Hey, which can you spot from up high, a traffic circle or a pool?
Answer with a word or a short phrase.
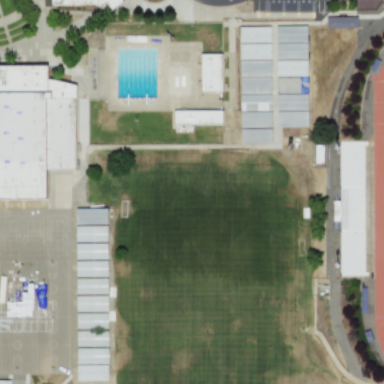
pool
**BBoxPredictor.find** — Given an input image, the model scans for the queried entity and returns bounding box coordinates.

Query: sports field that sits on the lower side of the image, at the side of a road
[67,150,350,384]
